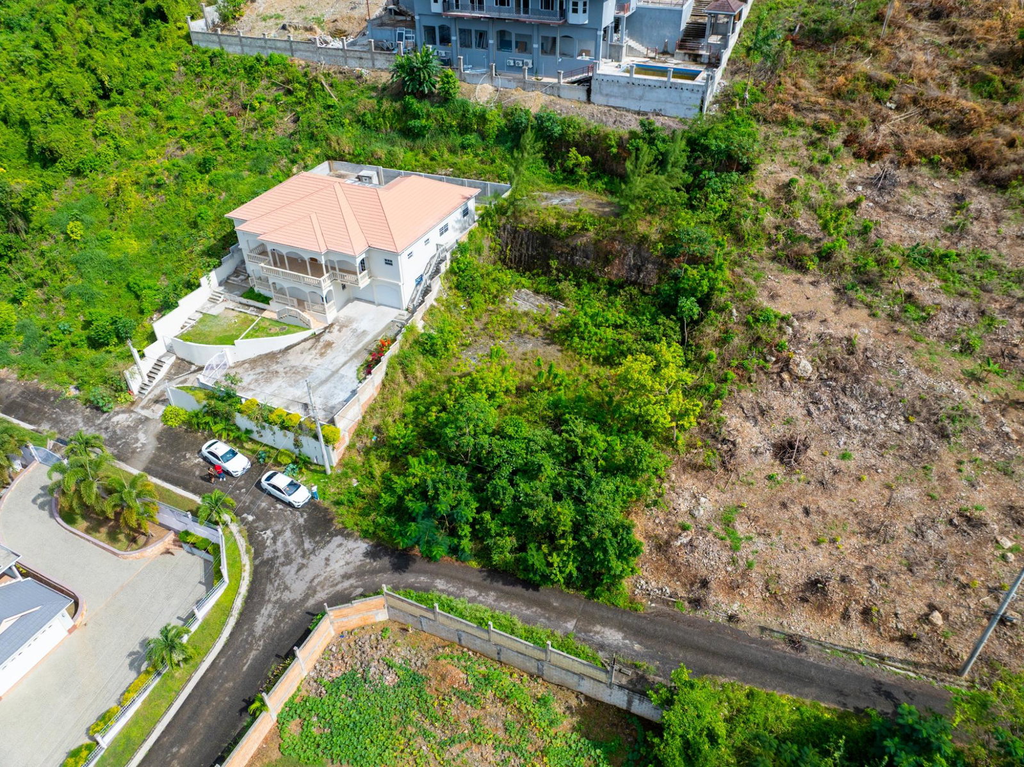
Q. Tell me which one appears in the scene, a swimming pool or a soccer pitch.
swimming pool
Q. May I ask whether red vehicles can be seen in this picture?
No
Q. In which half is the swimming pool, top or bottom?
top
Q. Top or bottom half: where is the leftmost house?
bottom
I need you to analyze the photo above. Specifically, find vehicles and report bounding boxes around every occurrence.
[195,442,251,479]
[255,473,313,513]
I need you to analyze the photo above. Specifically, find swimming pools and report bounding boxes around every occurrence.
[589,49,714,109]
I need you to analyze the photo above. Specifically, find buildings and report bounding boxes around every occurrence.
[386,0,701,71]
[0,541,77,691]
[224,172,482,321]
